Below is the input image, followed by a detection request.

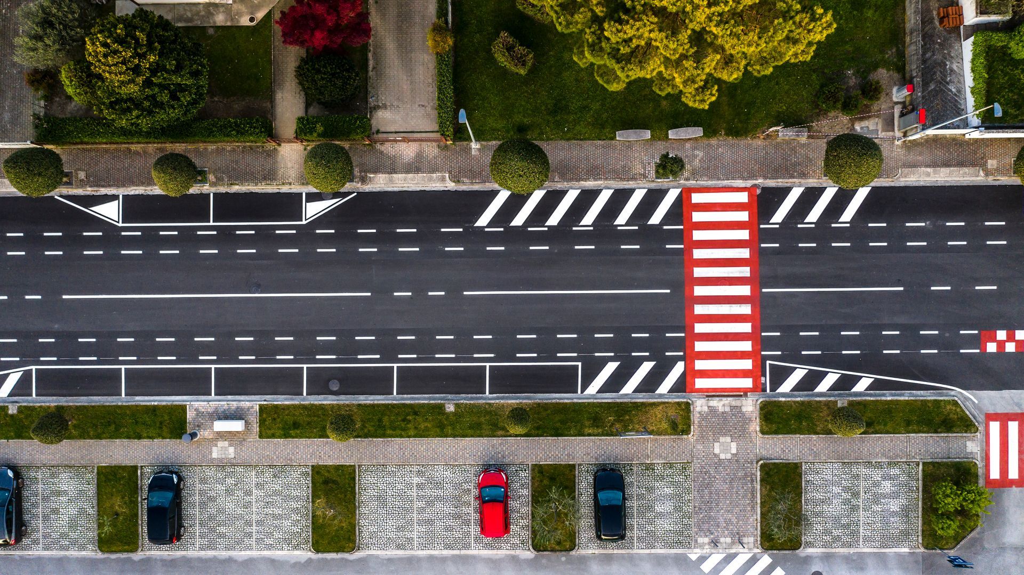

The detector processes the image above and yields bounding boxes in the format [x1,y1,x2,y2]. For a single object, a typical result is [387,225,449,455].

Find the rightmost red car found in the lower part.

[474,465,514,541]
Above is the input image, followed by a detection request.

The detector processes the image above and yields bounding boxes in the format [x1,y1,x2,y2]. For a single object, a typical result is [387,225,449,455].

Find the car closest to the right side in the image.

[591,465,631,544]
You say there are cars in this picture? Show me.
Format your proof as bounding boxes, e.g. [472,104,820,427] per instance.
[591,465,631,544]
[474,465,514,541]
[0,465,29,550]
[141,469,185,546]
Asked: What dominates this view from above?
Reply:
paved ground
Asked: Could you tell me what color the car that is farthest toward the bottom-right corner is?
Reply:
black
